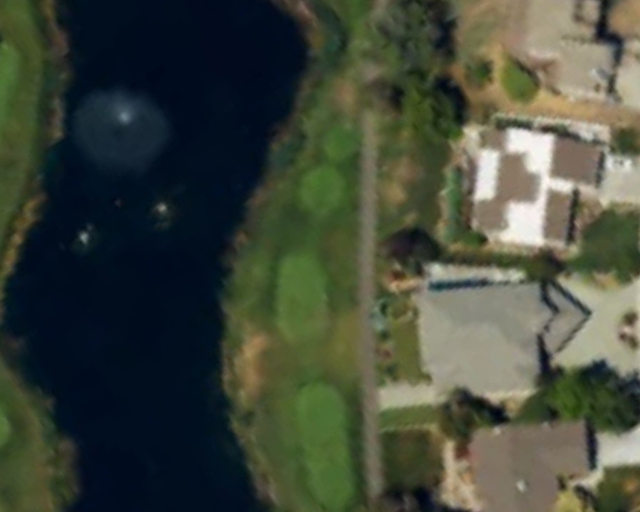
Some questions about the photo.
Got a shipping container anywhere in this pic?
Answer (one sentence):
No, the photo shows no shipping container.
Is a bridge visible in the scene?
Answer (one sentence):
No, no bridge can be seen from above.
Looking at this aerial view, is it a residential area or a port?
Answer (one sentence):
What you see here is a residential area.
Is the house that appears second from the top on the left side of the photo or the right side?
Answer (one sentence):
The house that appears second from the top appears in the right half of the scene.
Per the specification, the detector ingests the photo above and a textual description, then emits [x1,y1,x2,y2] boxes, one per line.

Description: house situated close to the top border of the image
[517,0,620,95]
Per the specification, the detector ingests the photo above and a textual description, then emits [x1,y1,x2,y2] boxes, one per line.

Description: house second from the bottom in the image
[420,282,591,394]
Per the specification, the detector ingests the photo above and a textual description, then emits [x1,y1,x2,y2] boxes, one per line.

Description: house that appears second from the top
[472,126,608,246]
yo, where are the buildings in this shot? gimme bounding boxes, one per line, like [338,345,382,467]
[472,126,608,246]
[420,282,591,394]
[472,425,593,512]
[517,0,620,95]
